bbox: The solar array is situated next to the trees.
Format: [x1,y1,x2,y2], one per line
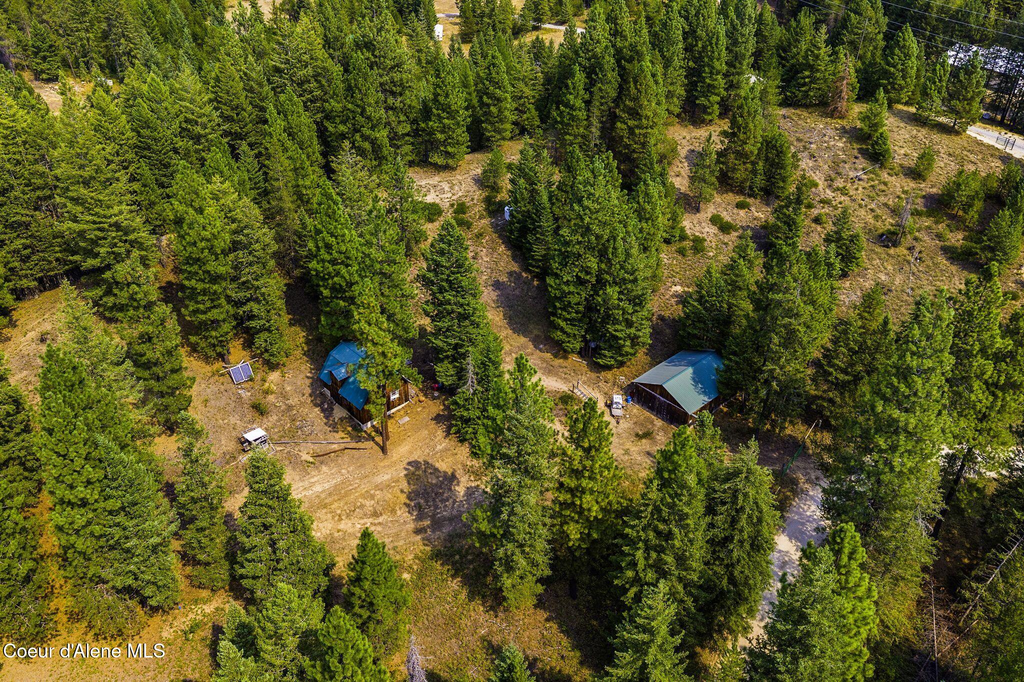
[228,363,254,386]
